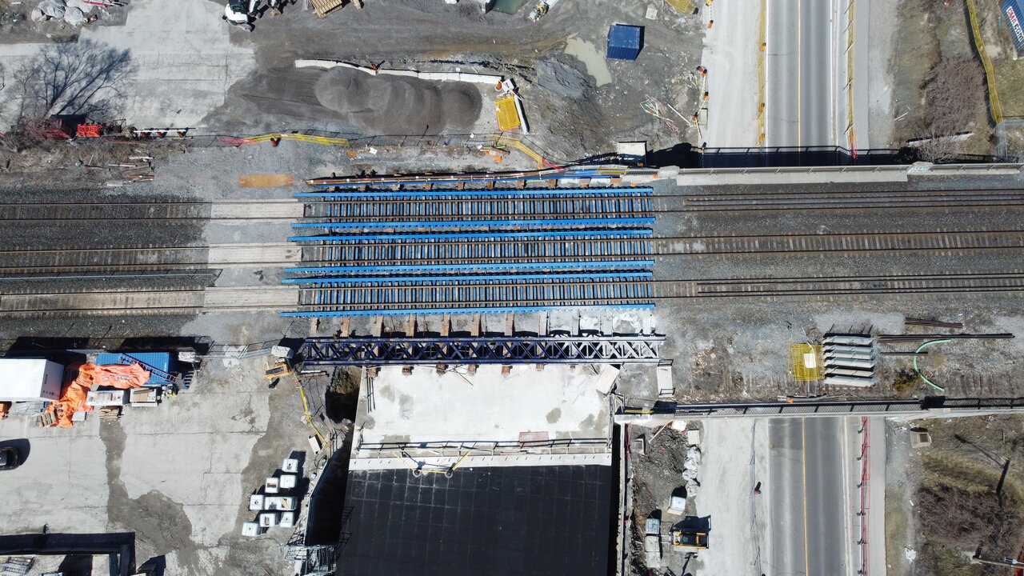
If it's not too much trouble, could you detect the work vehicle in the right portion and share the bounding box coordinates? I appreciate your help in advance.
[672,523,716,548]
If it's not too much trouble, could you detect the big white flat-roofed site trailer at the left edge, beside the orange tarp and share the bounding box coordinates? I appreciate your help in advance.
[0,360,60,405]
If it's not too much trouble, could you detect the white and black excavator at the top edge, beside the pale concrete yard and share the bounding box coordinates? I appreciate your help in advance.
[219,0,261,32]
